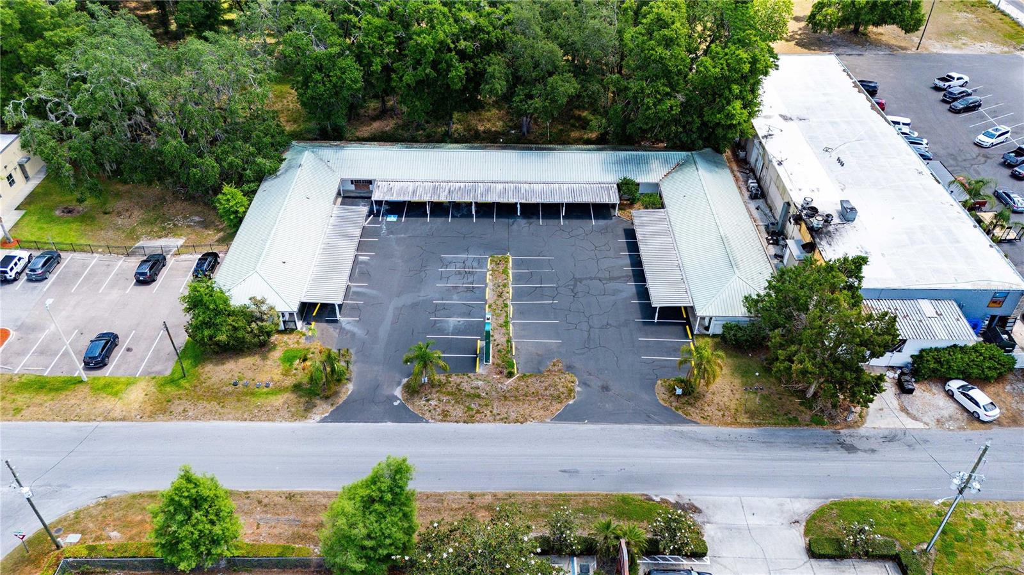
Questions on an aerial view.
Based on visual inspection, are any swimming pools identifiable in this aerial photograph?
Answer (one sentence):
No, there is no swimming pool in the image.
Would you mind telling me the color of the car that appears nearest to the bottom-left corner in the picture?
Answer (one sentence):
From above, the car that appears nearest to the bottom-left corner appears blue.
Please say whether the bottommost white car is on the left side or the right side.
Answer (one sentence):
It is on the right.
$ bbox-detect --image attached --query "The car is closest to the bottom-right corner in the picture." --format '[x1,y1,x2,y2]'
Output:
[938,379,1000,420]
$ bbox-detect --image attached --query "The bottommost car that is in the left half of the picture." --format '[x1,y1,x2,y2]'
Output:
[85,327,125,364]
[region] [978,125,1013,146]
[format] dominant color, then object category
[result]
white car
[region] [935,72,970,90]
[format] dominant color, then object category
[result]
white vehicle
